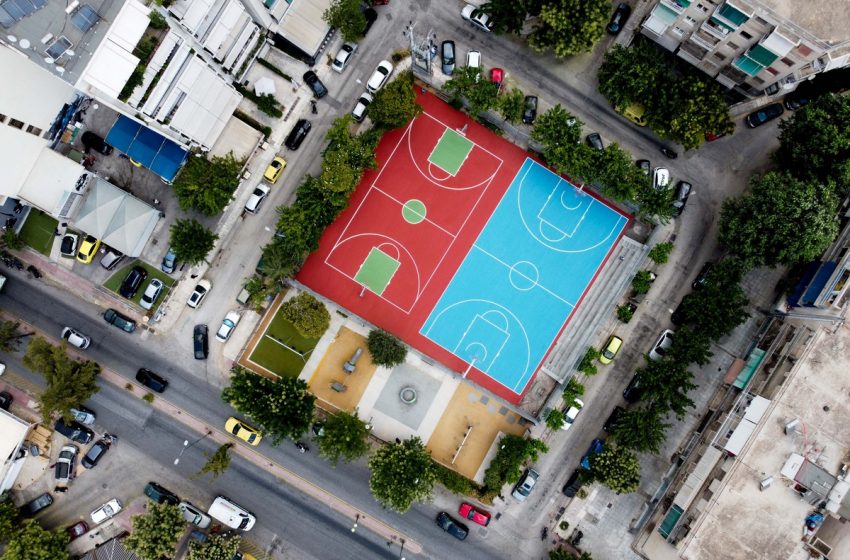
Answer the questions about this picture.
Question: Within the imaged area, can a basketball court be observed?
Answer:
Yes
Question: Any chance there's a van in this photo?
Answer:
Yes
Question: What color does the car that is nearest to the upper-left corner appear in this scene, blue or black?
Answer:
black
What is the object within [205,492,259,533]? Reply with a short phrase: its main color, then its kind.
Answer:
white van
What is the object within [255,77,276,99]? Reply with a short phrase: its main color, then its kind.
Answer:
white umbrella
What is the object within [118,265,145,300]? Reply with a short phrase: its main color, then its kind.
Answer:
black car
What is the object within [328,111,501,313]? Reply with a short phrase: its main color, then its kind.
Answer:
red basketball court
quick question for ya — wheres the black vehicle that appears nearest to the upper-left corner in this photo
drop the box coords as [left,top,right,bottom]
[77,129,113,155]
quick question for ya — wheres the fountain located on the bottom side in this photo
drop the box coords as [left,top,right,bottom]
[399,386,417,404]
